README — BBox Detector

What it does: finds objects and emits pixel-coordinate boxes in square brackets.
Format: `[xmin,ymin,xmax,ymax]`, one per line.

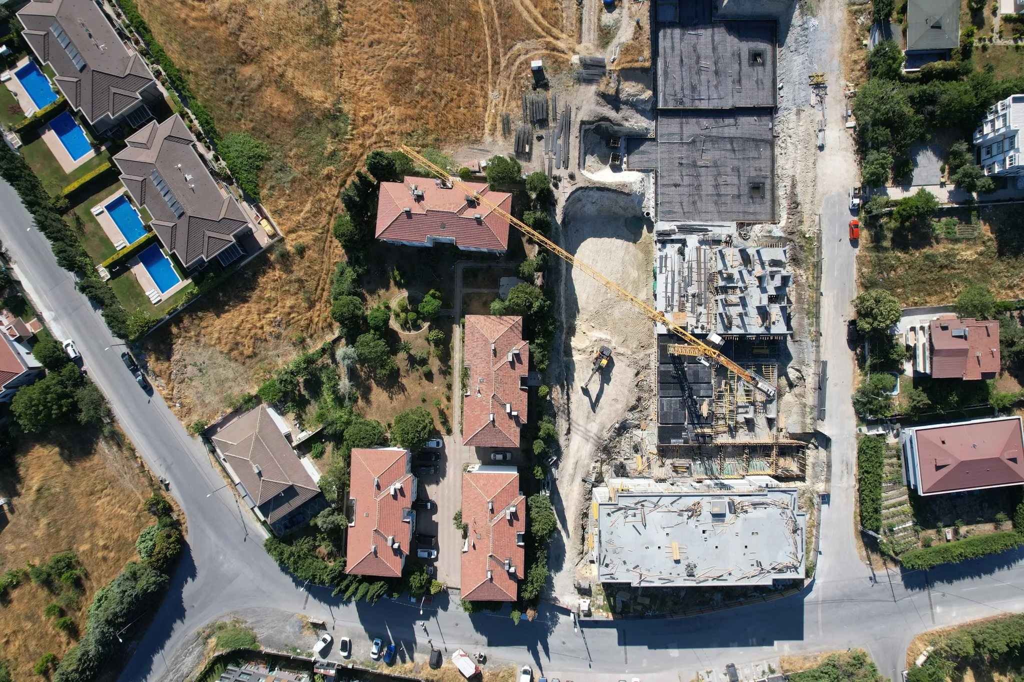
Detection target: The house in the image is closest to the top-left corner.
[16,0,169,131]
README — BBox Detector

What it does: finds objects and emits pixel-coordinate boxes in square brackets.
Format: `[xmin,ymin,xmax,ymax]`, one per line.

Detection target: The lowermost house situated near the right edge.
[891,413,1024,495]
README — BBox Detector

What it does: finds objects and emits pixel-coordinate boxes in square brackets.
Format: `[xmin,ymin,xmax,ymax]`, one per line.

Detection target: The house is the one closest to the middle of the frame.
[462,314,530,448]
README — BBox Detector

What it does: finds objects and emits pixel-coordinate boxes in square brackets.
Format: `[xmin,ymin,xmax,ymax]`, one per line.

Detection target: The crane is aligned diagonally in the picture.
[398,142,779,400]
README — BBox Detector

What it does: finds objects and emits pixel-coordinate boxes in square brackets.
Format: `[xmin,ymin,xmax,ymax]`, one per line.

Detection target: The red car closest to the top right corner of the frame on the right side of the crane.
[850,219,862,240]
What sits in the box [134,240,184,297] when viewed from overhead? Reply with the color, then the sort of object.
blue swimming pool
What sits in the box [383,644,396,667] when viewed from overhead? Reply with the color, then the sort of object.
blue vehicle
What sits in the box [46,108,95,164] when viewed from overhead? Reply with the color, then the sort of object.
blue swimming pool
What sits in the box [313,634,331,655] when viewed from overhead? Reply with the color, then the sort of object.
white car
